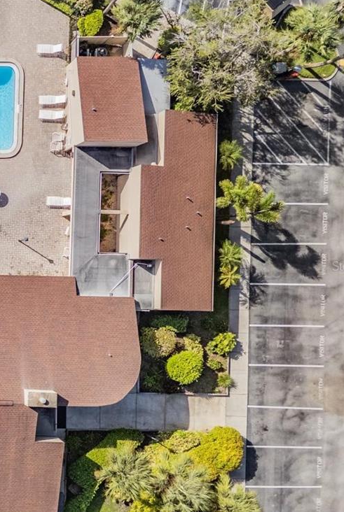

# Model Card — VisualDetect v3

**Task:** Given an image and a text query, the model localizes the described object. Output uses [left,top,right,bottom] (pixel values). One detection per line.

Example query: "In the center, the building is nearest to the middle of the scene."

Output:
[114,109,219,312]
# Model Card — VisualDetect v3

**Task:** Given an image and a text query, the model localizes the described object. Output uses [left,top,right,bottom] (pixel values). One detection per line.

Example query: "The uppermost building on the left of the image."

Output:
[64,57,148,151]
